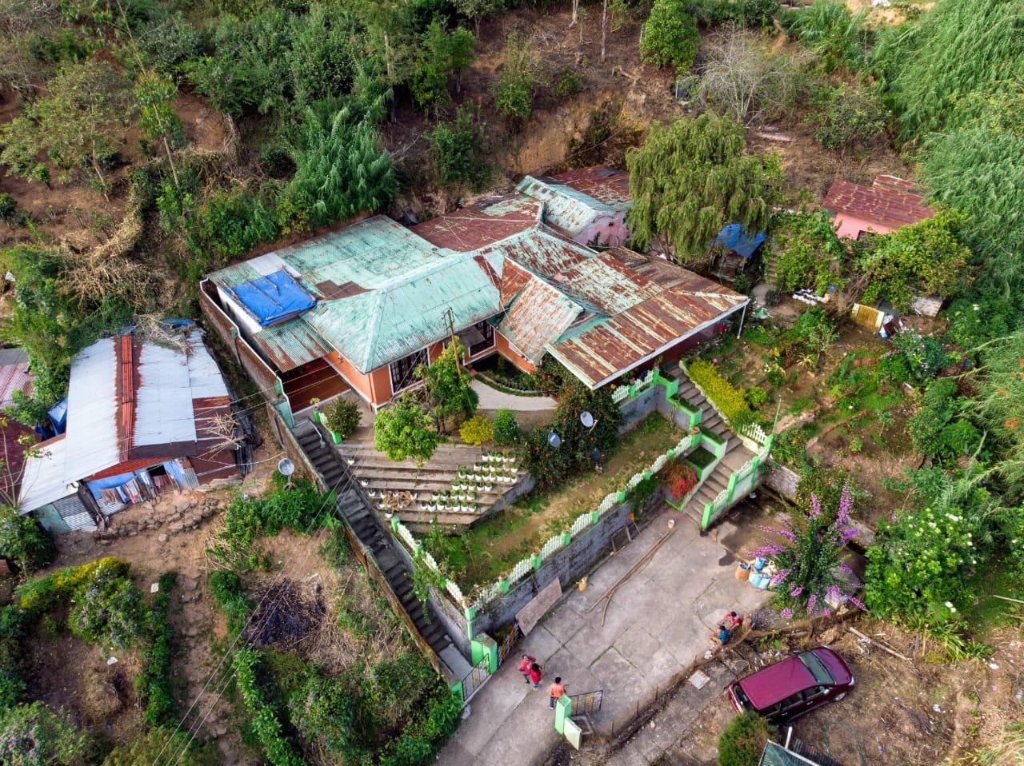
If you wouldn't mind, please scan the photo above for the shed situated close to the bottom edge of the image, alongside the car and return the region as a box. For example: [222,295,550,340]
[756,725,840,766]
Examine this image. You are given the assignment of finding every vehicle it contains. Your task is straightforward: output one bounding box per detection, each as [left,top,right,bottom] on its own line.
[734,646,862,724]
